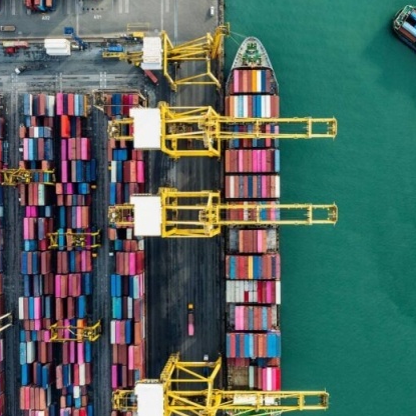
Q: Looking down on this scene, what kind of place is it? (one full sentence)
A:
It's a port.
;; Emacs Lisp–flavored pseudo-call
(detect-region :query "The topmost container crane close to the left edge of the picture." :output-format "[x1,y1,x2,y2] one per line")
[5,168,63,185]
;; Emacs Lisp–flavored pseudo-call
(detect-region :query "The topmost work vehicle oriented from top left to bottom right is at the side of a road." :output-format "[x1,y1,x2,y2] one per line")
[62,24,88,54]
